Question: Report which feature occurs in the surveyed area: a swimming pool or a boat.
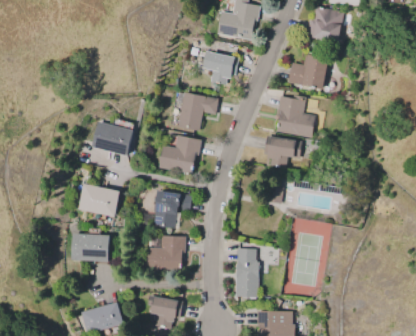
swimming pool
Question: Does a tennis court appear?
Yes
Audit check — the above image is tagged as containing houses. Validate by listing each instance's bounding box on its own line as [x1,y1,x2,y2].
[202,50,235,84]
[78,184,120,218]
[71,233,110,263]
[218,0,262,40]
[258,310,296,336]
[310,8,345,39]
[148,235,187,270]
[177,92,220,132]
[236,248,260,298]
[266,136,304,167]
[149,296,178,330]
[82,303,121,330]
[156,192,181,228]
[288,54,328,90]
[277,96,316,138]
[92,120,134,155]
[159,135,202,174]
